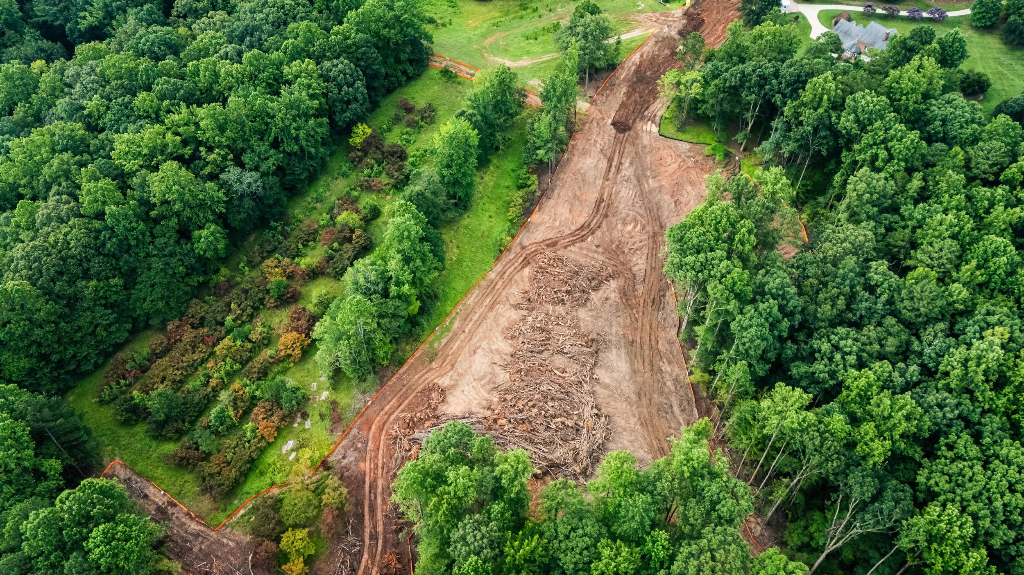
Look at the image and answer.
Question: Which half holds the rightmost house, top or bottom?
top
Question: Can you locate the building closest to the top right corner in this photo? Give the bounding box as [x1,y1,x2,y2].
[834,18,905,61]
